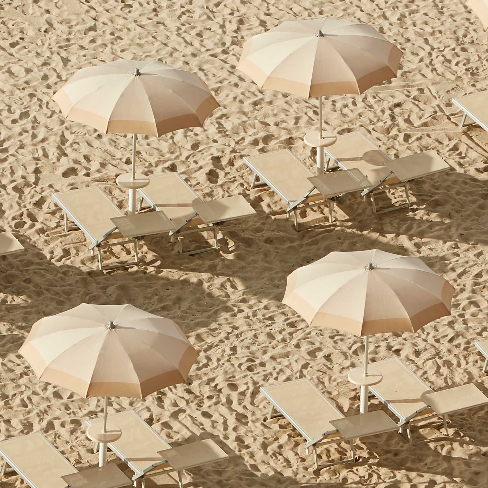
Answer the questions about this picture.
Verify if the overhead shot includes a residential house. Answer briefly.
No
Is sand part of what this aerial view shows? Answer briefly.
Yes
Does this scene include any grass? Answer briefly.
No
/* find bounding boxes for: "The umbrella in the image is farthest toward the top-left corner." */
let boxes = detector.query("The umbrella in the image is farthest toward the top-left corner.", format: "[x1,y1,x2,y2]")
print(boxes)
[52,59,222,214]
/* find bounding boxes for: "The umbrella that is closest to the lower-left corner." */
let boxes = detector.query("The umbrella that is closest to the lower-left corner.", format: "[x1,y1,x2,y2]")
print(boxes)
[19,304,200,467]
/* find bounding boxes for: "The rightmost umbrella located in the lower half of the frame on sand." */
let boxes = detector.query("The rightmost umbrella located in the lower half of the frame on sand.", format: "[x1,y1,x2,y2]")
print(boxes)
[282,250,456,415]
